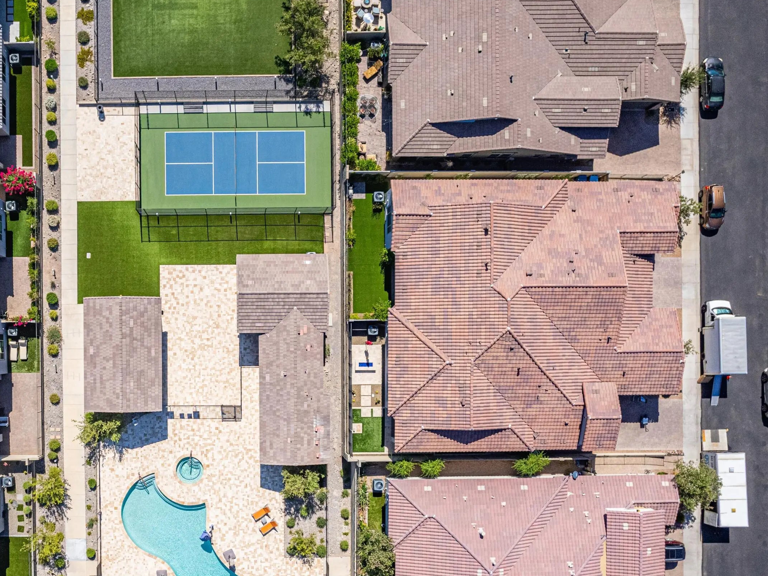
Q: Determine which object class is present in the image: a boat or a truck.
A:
truck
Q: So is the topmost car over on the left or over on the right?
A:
right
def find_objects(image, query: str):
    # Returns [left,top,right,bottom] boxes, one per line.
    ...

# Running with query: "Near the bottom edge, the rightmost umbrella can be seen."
[224,549,236,567]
